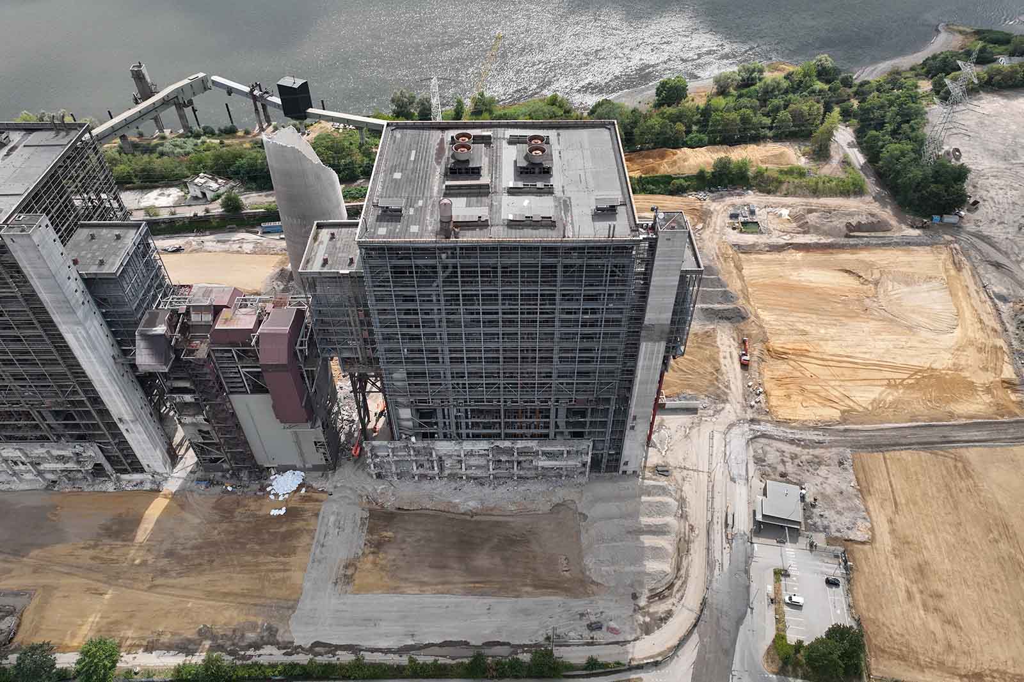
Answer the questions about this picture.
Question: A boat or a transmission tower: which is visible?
transmission tower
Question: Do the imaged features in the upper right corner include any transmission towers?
Yes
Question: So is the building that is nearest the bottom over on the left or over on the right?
right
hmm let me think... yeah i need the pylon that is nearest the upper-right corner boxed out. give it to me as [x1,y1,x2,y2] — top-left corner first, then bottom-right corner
[932,46,998,157]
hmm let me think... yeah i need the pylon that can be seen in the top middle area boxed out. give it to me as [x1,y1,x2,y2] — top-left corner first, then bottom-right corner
[419,72,455,118]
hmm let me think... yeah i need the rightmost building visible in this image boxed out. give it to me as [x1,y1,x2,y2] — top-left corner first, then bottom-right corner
[762,480,814,536]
